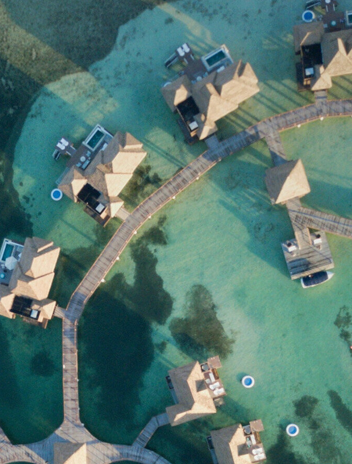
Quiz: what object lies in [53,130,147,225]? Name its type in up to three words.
house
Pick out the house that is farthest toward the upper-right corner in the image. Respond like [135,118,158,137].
[289,0,352,101]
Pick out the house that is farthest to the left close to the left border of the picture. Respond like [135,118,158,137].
[0,236,61,329]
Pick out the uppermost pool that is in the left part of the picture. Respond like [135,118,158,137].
[84,124,115,153]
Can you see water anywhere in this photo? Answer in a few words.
Yes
